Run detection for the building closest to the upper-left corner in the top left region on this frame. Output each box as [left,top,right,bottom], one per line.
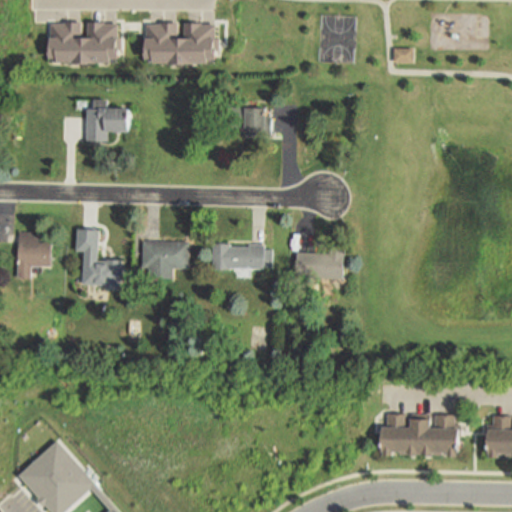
[48,22,120,66]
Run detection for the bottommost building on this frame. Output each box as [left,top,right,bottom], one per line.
[16,440,96,512]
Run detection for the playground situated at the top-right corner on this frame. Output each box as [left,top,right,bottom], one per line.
[430,12,490,50]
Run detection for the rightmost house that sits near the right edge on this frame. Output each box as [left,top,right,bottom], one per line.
[484,414,512,458]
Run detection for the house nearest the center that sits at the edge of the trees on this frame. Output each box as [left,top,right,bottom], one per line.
[213,243,272,270]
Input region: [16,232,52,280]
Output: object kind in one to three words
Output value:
house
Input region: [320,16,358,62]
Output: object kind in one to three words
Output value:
basketball court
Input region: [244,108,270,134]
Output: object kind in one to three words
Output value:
house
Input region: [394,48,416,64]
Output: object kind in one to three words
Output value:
building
